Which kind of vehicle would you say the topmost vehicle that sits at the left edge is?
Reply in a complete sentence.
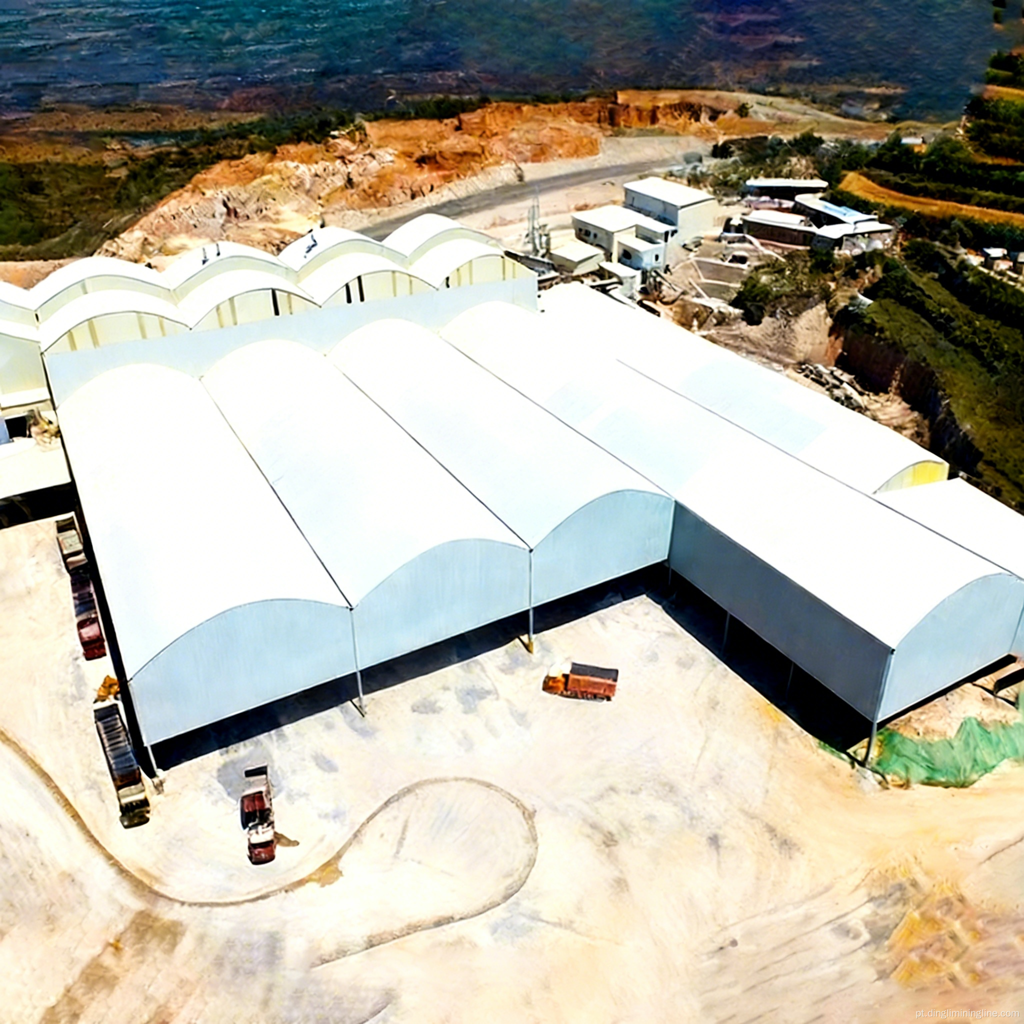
What you see as the topmost vehicle that sits at the left edge is a truck.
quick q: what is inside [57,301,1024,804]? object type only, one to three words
warehouse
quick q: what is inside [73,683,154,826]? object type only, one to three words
truck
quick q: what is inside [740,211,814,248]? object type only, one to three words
building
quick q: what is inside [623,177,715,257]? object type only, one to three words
house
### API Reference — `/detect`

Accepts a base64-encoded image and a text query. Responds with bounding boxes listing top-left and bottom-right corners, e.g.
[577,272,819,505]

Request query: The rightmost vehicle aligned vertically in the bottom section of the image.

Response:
[236,754,274,862]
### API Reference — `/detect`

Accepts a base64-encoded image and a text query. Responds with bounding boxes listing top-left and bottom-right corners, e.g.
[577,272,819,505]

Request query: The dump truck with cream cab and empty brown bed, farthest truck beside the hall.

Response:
[42,503,90,566]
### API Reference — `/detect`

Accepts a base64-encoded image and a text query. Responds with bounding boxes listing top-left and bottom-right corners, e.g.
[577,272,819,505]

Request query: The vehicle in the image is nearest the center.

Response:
[538,661,614,700]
